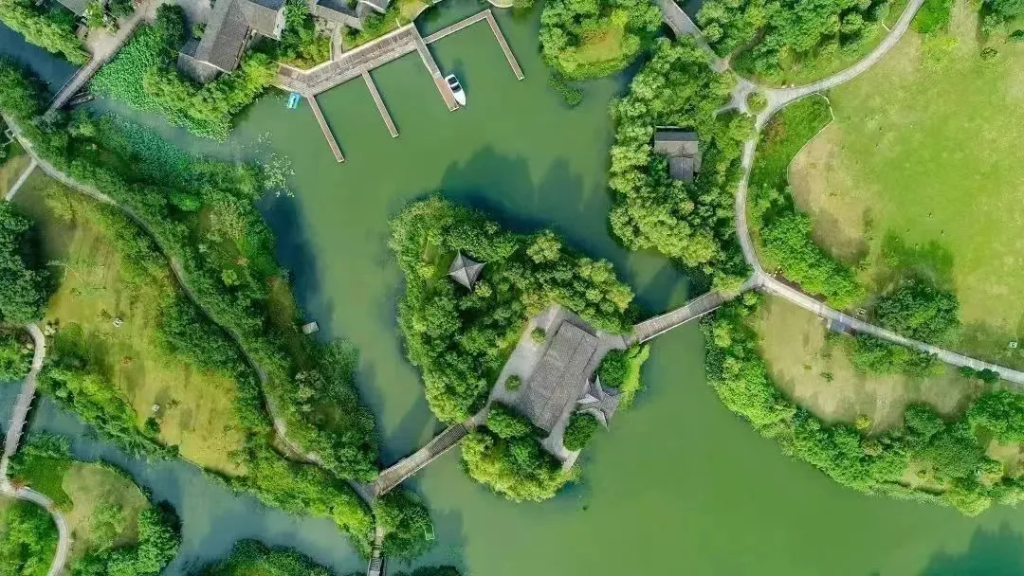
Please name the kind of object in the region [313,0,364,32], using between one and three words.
house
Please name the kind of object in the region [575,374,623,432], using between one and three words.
building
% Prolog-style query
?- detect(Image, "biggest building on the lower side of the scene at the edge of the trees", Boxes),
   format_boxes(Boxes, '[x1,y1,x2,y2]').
[515,321,598,429]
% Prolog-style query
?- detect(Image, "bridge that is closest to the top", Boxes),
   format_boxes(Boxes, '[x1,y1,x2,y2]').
[660,0,697,33]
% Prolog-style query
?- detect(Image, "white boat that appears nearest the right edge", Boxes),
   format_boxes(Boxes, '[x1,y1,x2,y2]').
[445,74,466,107]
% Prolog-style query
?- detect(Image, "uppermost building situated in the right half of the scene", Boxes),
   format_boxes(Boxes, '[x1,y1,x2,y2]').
[651,131,700,156]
